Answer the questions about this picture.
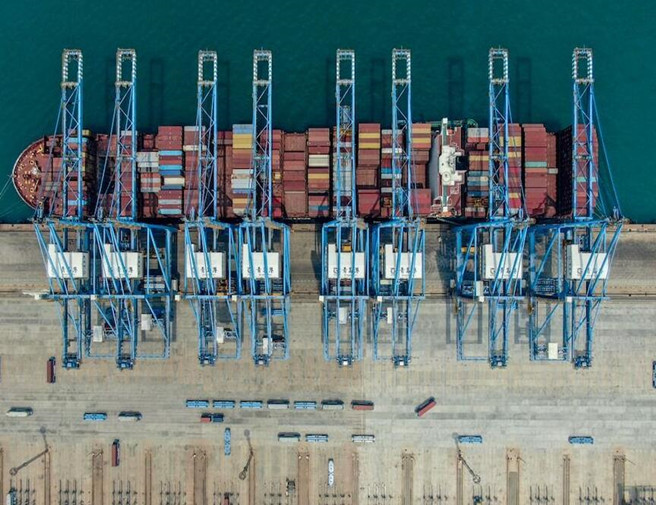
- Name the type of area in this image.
port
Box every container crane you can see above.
[10,42,127,368]
[318,44,372,368]
[172,43,247,368]
[450,44,539,367]
[230,43,293,368]
[85,42,177,368]
[525,45,634,367]
[368,44,430,367]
